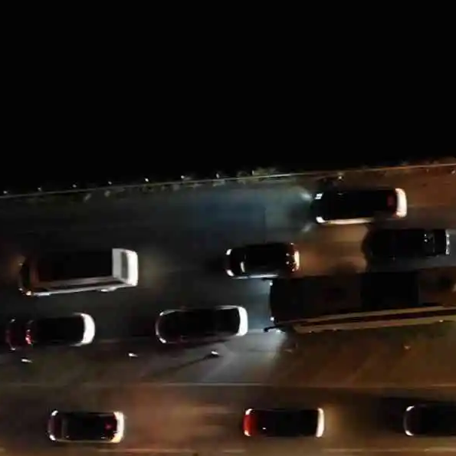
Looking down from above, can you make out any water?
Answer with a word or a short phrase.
No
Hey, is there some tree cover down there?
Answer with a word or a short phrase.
No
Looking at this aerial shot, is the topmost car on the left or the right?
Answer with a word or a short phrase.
right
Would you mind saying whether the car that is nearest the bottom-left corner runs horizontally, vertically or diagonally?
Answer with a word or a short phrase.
horizontally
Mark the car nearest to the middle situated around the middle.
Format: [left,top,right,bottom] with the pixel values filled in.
[223,238,303,279]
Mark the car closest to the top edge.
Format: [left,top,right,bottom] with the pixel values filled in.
[314,182,409,226]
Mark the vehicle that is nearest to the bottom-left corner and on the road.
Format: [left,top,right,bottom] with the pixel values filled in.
[44,406,128,444]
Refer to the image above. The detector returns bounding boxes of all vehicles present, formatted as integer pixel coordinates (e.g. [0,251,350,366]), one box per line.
[314,182,409,226]
[23,248,140,296]
[365,223,451,262]
[153,302,250,343]
[223,238,303,279]
[44,406,128,444]
[242,402,327,440]
[269,262,456,332]
[4,309,98,348]
[403,400,456,439]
